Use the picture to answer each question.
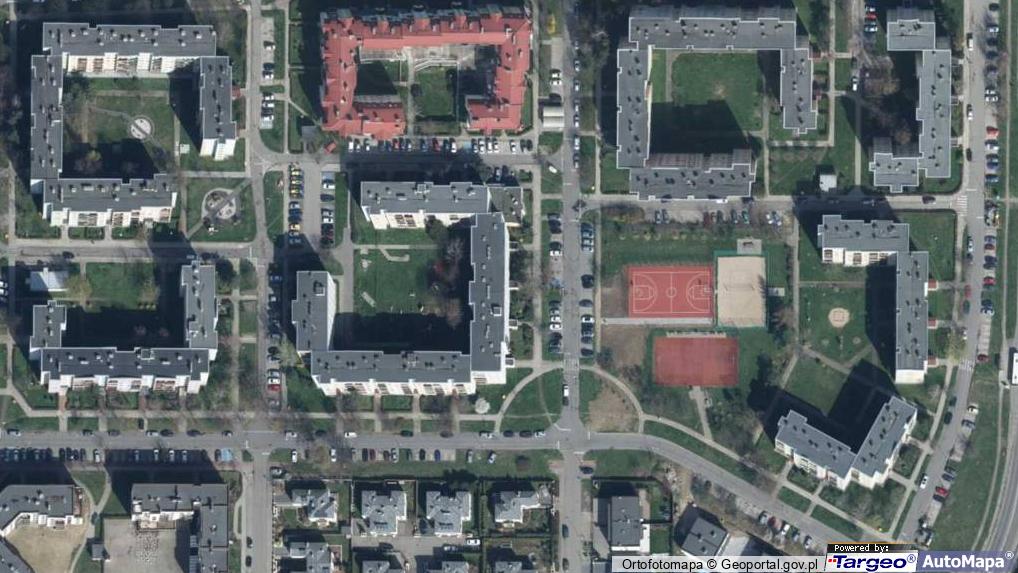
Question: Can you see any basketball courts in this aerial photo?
Yes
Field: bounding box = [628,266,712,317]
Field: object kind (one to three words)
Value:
basketball court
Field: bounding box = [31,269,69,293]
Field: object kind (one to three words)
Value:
building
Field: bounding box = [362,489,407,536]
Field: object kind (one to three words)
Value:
house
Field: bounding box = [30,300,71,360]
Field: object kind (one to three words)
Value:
building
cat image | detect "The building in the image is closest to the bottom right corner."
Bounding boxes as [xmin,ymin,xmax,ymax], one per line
[851,396,917,488]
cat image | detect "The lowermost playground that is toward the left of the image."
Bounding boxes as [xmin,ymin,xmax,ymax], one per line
[202,186,242,223]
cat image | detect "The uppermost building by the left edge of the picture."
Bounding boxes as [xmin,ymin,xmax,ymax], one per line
[43,23,220,75]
